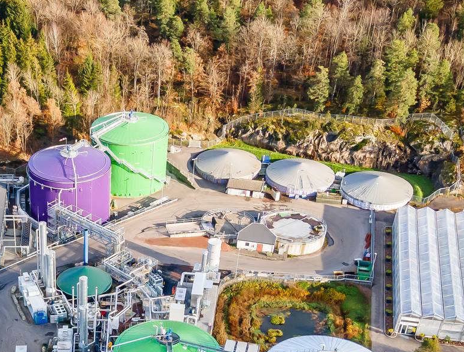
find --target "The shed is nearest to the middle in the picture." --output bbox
[226,175,267,198]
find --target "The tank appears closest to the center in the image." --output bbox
[194,152,261,190]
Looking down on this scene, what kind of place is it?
industrial area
